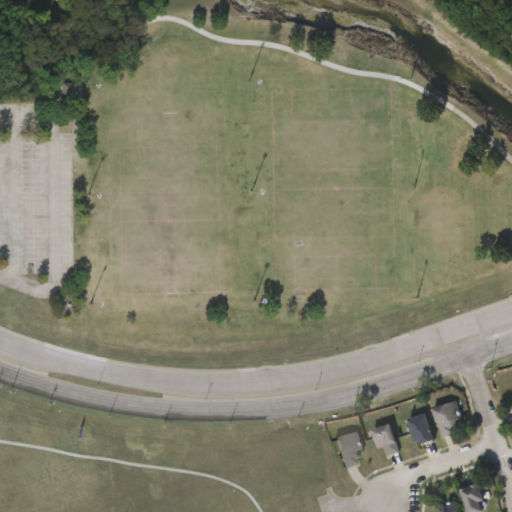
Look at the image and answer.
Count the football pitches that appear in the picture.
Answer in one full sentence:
My tally gives 2 football pitches in this view.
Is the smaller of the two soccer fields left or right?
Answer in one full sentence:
It is on the left.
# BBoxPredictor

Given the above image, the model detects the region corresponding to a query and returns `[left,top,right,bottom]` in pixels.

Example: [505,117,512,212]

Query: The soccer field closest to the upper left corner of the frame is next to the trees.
[120,146,220,294]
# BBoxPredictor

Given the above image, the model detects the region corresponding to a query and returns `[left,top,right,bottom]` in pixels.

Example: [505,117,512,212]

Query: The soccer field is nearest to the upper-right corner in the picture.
[272,88,396,290]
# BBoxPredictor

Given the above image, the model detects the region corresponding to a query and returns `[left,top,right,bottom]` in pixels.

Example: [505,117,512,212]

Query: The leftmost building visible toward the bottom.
[338,432,365,468]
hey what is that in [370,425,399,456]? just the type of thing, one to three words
house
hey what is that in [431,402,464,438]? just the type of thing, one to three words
house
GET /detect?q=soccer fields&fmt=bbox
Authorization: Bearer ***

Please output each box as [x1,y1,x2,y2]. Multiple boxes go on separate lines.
[120,146,220,294]
[272,88,396,290]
